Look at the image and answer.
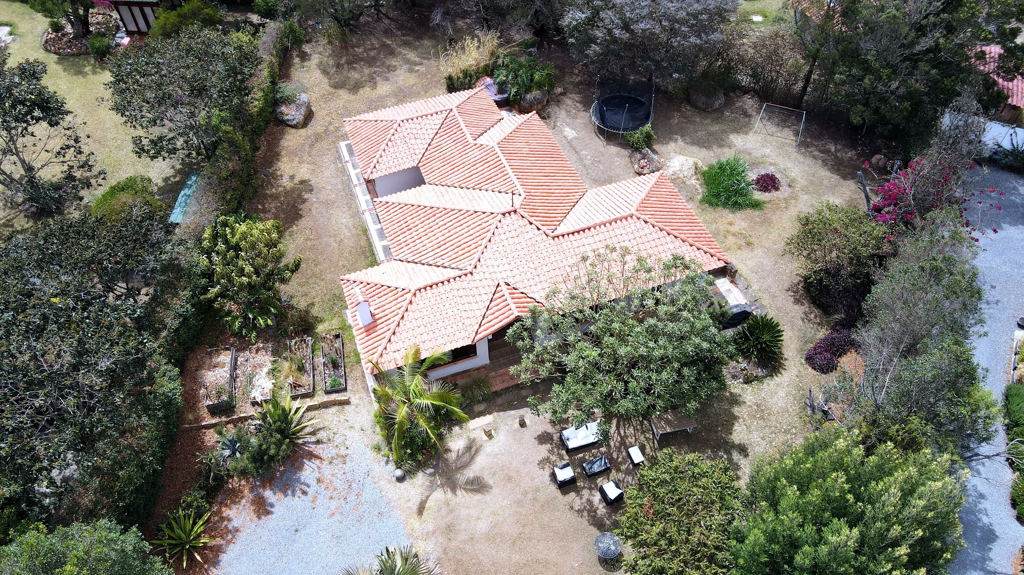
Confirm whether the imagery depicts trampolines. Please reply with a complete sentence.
Yes, I can see a trampoline in this picture.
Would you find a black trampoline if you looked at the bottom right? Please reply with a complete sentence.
No, looking at the bottom right, there is no black trampoline.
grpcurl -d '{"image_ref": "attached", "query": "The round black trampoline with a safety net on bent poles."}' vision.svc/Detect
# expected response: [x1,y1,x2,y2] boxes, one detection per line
[590,69,656,144]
